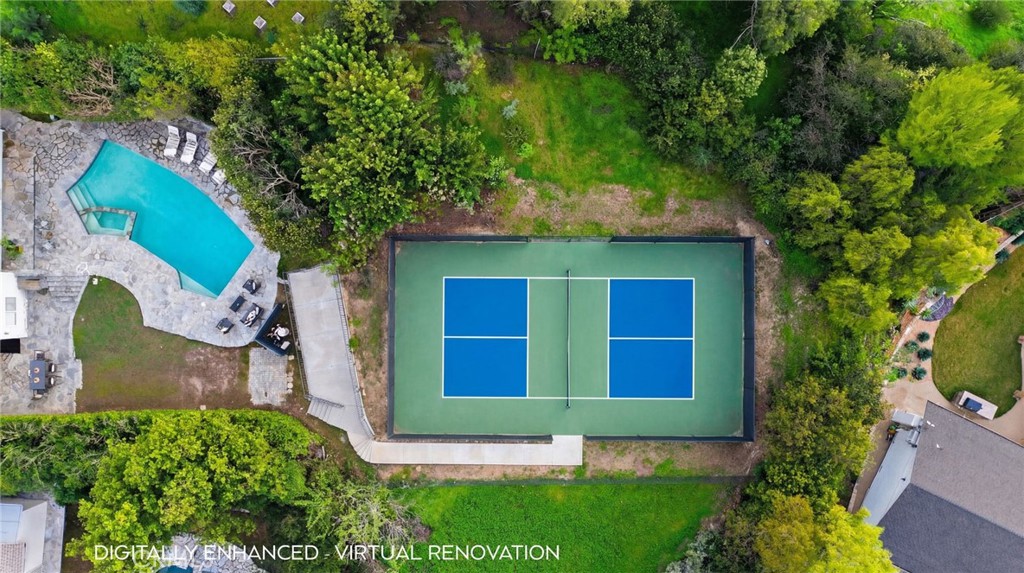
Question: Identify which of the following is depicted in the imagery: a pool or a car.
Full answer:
Looking from above, you can make out a pool.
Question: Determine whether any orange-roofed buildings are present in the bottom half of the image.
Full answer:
No, I can find no orange-roofed building in the bottom half of the image.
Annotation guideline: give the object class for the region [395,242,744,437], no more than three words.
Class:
sports court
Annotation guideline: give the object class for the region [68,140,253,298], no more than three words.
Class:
swimming pool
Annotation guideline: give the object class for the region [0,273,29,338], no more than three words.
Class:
building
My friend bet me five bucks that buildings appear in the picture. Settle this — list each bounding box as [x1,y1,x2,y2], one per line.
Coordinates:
[0,501,49,573]
[863,400,1024,573]
[0,273,29,338]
